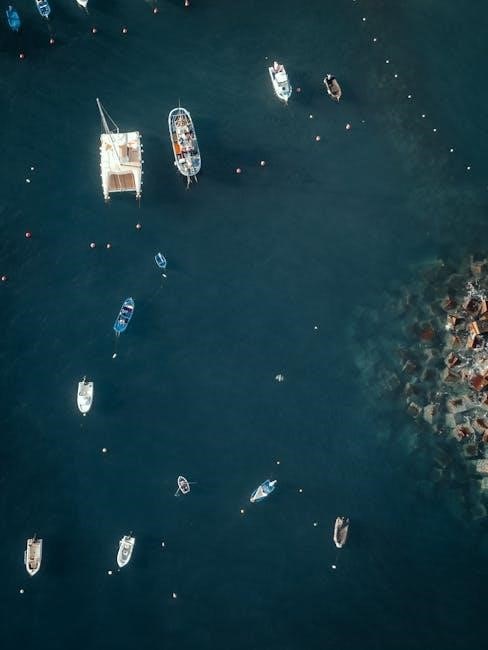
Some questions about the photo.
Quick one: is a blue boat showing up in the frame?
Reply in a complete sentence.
Yes, there's a blue boat down there.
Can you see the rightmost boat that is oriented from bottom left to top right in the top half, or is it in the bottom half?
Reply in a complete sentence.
You can find the rightmost boat that is oriented from bottom left to top right in the bottom half.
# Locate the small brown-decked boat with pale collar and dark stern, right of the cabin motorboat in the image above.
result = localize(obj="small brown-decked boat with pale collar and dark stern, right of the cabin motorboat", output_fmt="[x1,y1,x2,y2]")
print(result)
[324,74,341,102]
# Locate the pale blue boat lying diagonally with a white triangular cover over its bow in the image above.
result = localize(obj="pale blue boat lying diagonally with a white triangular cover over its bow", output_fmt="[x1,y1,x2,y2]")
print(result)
[250,479,276,502]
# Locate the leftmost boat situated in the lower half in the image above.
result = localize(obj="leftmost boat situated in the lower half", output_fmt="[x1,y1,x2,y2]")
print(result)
[25,530,43,576]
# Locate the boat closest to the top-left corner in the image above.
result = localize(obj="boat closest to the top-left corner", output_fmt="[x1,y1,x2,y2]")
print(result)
[5,4,20,32]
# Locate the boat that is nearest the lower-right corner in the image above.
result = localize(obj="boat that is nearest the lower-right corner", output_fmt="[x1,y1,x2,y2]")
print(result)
[334,512,348,548]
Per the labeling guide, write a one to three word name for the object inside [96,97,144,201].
boat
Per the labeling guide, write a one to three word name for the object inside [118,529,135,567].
boat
